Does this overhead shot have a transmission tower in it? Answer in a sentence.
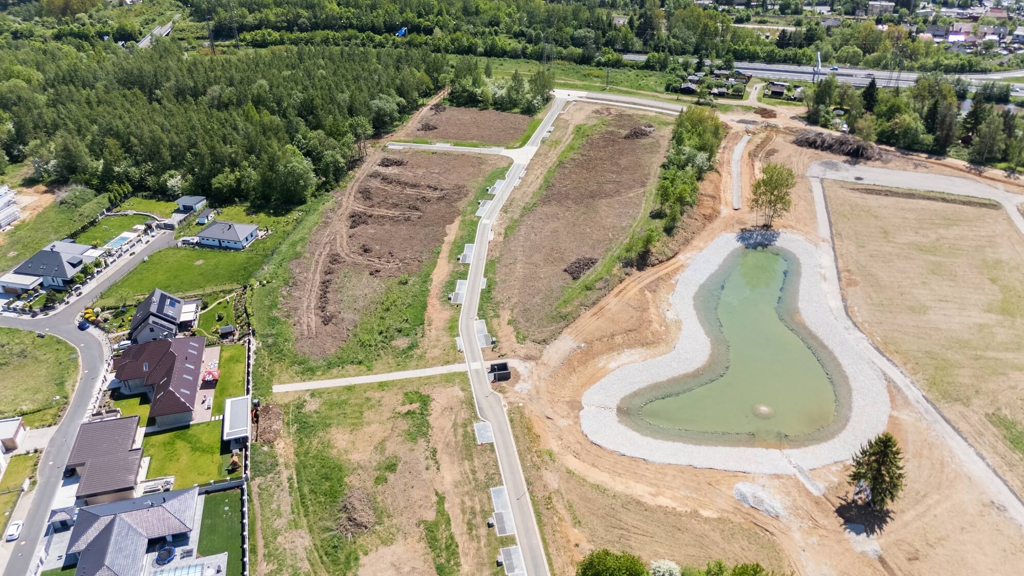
Yes, the frame does contain a transmission tower.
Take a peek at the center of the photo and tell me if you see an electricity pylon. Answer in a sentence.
No, the scene shows no electricity pylon at the center of the photo.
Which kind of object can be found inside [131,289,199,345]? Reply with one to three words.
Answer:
house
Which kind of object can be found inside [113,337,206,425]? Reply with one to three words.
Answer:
house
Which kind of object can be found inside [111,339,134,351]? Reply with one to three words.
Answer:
vehicle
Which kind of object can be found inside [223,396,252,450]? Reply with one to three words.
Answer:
building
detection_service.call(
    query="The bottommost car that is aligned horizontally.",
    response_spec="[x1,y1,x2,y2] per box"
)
[53,467,78,479]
